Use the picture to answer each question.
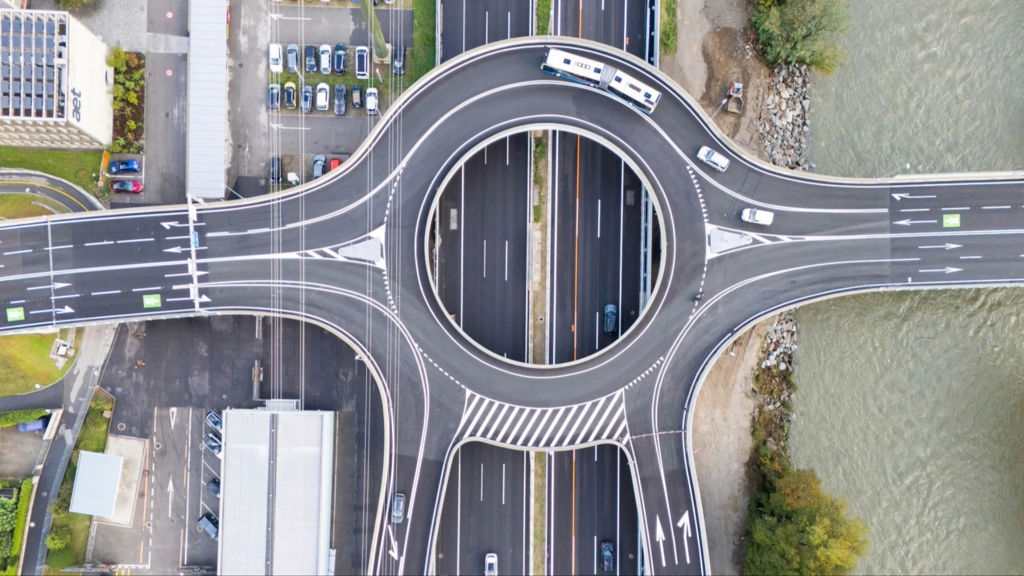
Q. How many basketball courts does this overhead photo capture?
none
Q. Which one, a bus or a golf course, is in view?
bus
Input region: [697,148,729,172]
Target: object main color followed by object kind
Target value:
white car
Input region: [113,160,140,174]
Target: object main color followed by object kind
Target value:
blue car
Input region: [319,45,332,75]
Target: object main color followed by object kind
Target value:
white vehicle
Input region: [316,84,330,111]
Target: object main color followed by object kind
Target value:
white car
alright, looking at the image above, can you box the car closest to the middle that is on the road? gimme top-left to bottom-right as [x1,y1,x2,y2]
[604,304,617,333]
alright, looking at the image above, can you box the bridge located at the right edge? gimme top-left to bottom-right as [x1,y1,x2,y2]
[884,166,1024,292]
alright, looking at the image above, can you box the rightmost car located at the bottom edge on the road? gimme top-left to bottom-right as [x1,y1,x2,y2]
[600,540,615,571]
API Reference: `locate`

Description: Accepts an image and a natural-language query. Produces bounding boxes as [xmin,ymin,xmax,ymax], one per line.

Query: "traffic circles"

[204,36,892,479]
